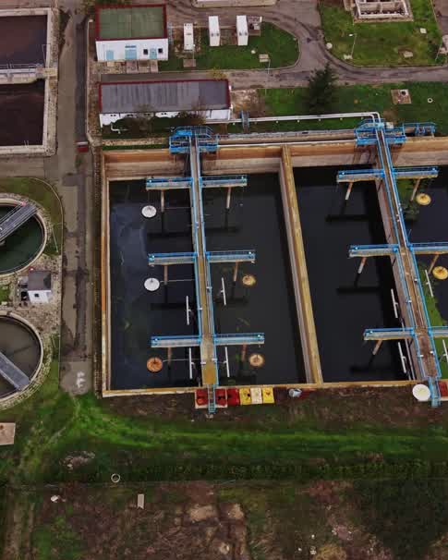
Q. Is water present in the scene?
Yes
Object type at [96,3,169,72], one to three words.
building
